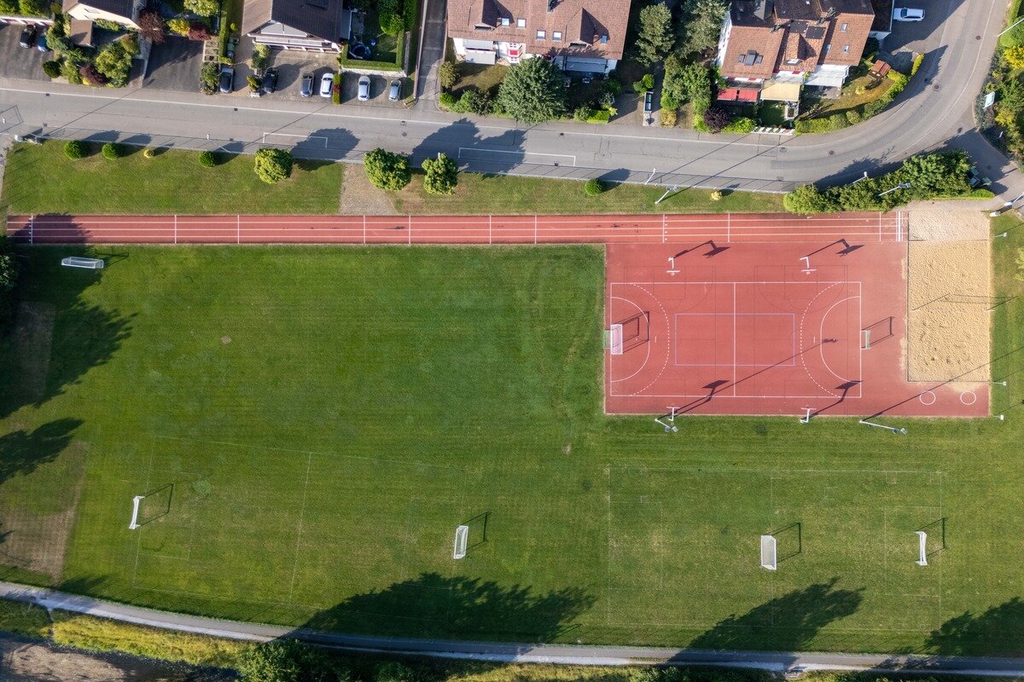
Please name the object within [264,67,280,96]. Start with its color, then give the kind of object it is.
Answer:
black car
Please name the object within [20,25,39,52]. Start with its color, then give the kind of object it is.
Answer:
black car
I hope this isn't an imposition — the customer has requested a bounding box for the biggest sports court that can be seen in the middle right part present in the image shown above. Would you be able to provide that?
[604,242,992,419]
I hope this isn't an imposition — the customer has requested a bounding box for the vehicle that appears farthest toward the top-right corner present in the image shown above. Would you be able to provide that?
[894,7,924,23]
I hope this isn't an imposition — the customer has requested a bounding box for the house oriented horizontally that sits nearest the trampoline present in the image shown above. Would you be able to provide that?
[241,0,356,55]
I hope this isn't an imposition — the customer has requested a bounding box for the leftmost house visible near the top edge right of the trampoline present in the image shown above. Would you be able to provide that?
[448,0,630,83]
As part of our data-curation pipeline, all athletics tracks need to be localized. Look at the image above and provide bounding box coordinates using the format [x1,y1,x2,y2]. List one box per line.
[7,211,908,245]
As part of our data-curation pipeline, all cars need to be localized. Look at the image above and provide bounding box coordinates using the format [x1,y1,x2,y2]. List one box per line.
[321,72,335,99]
[264,67,280,96]
[358,76,371,102]
[894,7,924,23]
[301,71,315,99]
[20,25,39,52]
[36,31,52,55]
[219,66,234,94]
[389,79,402,103]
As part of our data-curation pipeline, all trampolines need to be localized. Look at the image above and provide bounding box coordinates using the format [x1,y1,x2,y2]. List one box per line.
[351,42,371,62]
